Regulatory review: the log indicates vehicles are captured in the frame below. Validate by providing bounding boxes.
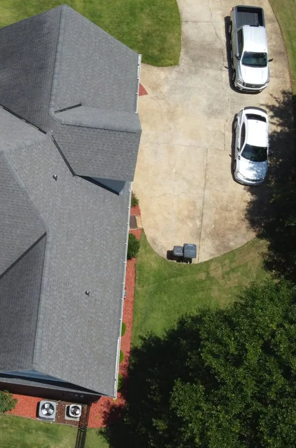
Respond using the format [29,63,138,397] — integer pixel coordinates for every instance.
[228,5,274,95]
[230,105,273,190]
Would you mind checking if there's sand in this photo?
No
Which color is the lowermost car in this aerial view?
white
